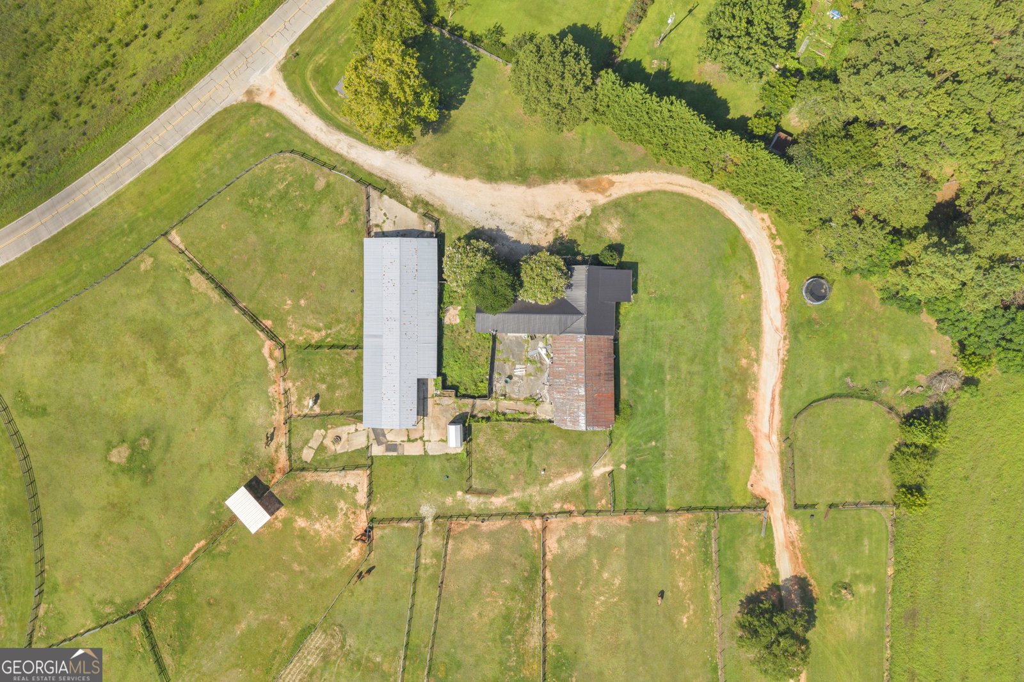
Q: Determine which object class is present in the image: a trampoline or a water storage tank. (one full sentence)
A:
Looking from above, you can make out a trampoline.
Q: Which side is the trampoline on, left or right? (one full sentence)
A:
It is on the right.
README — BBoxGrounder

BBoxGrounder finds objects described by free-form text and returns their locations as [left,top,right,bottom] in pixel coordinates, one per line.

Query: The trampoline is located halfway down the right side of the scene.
[802,278,832,304]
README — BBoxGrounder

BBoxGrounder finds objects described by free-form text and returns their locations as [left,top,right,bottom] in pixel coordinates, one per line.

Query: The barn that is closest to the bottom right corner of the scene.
[549,335,614,429]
